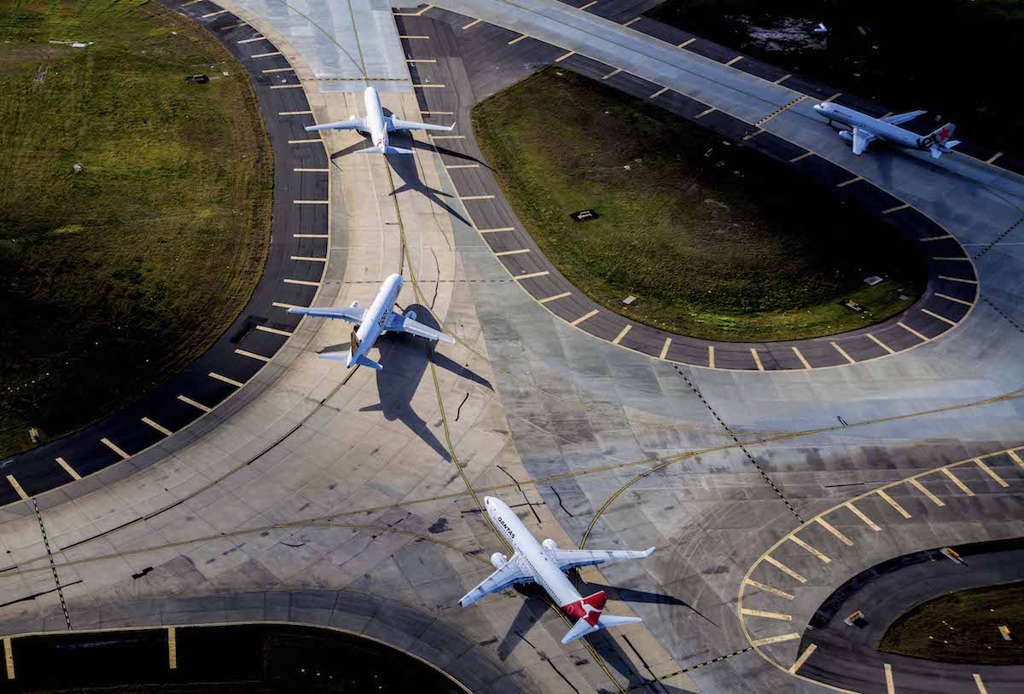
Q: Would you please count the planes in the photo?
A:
4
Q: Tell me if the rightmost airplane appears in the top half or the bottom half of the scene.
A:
top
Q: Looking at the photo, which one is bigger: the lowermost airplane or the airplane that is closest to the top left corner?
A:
the lowermost airplane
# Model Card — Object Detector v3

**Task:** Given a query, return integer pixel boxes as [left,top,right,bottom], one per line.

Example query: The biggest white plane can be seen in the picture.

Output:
[455,499,654,641]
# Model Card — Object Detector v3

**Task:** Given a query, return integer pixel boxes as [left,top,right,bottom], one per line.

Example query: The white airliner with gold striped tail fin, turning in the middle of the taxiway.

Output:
[286,274,457,368]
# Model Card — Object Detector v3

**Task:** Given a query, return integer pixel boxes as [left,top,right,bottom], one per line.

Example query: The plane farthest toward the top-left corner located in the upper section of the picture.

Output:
[302,86,456,154]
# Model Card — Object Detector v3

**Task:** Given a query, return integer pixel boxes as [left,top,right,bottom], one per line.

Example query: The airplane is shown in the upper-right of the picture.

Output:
[815,103,960,157]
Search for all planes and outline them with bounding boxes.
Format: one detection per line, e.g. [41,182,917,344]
[286,274,457,368]
[815,103,960,157]
[455,499,654,641]
[302,86,456,154]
